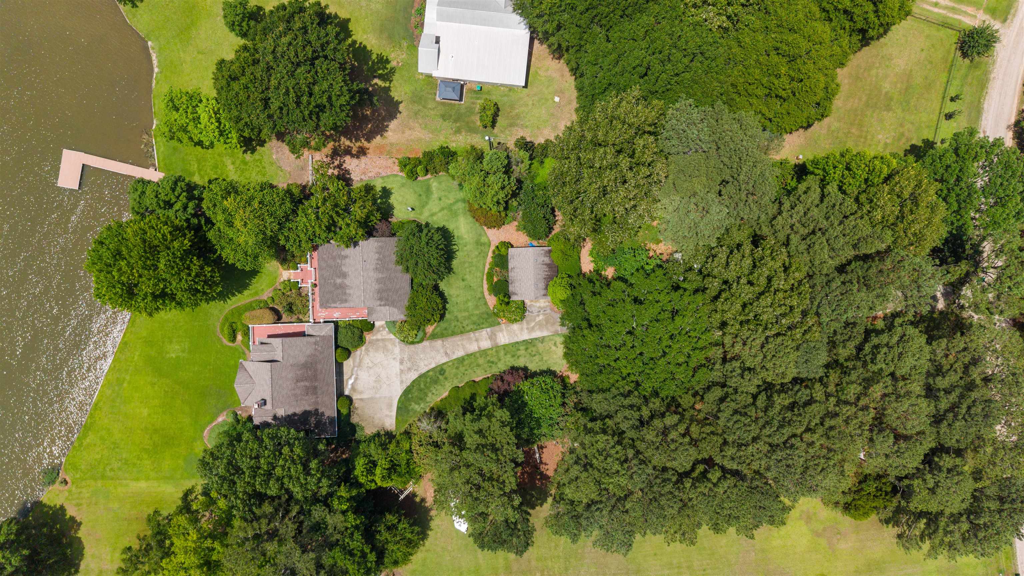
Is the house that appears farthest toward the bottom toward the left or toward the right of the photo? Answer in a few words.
left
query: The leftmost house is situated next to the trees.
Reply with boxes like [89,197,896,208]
[234,323,342,438]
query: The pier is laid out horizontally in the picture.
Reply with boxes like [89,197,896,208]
[57,149,163,190]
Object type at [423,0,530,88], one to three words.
building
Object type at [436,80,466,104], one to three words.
gazebo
